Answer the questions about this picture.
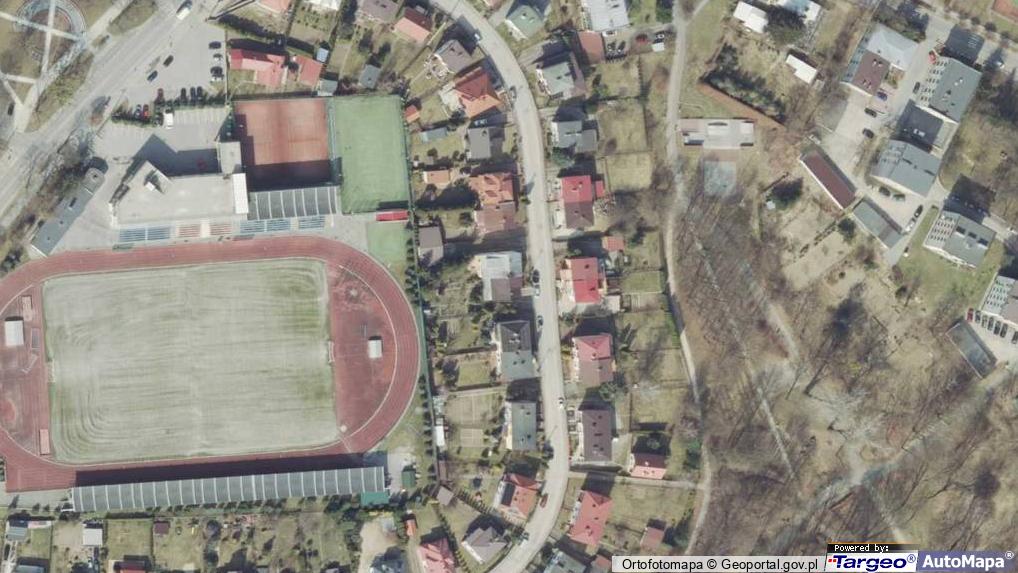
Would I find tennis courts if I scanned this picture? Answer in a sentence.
Yes, there is a tennis court in the image.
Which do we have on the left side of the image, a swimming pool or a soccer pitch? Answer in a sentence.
There is a soccer pitch on the left side of the image.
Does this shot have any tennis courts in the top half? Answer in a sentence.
Yes, a tennis court appears in the top half.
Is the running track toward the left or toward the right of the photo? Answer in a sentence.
The running track is on the left side of the image.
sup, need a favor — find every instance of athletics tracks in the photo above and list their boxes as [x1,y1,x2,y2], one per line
[0,234,421,493]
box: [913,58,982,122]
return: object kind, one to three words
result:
building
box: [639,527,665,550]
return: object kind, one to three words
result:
shed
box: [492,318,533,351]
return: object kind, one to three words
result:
house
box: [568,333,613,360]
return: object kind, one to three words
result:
house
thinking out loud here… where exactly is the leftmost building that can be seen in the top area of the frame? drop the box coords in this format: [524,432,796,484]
[31,168,105,256]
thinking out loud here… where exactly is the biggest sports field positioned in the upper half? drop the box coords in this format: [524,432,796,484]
[335,95,412,215]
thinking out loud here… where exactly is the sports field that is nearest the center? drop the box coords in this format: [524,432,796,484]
[367,222,414,272]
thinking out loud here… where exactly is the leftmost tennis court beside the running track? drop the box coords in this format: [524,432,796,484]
[234,99,283,190]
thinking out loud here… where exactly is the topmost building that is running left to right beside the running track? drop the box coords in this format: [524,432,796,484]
[105,161,250,224]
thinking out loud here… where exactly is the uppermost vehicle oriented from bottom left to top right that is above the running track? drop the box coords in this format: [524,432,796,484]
[177,2,191,19]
